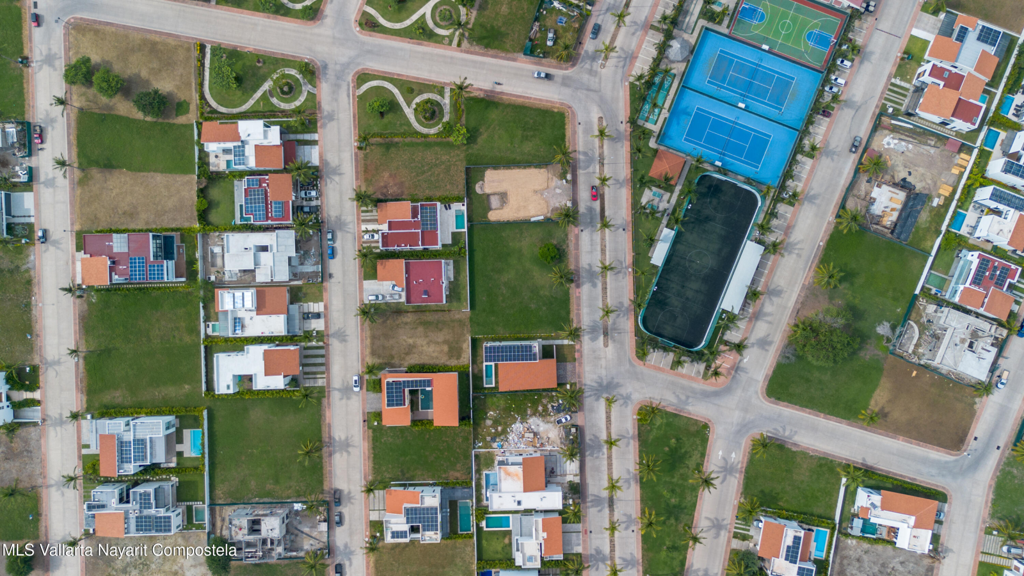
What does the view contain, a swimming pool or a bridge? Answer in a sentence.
Of the two, only a swimming pool appears.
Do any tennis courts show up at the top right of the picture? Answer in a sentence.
Yes, the scene does show a tennis court at the top right of the picture.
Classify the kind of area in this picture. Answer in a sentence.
The picture captures a residential area.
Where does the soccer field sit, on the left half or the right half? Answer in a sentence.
You can find the soccer field on the right side of the picture.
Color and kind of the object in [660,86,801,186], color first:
blue tennis court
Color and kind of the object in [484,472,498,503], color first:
blue swimming pool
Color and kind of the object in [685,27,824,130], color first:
blue tennis court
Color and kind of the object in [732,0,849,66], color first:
green basketball court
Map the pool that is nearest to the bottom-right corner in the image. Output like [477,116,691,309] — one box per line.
[861,517,878,536]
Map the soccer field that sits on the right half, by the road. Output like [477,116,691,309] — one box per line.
[640,168,769,352]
